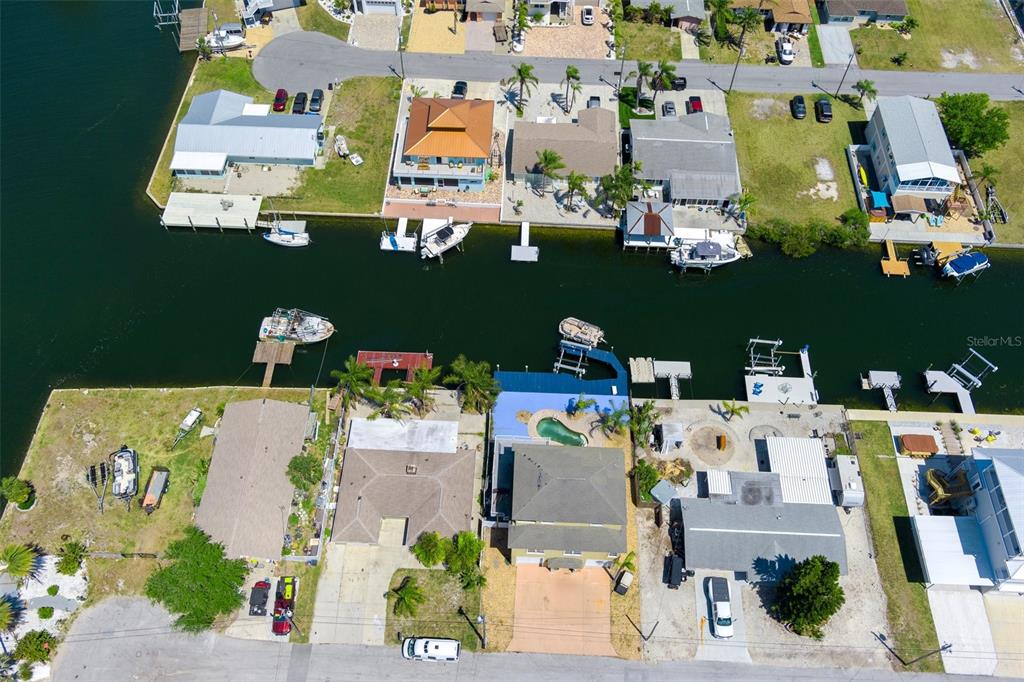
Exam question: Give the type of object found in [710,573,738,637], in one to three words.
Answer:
truck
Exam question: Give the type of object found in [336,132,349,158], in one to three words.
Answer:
boat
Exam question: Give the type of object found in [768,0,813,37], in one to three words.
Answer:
house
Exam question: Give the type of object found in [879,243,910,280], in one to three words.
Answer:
pier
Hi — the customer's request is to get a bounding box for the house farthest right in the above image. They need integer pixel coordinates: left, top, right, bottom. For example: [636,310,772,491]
[952,448,1024,594]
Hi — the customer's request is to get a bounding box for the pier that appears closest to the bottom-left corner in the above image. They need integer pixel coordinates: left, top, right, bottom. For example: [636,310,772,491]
[250,338,298,386]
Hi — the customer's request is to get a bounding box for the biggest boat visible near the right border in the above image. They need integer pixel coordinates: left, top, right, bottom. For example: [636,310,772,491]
[938,252,995,277]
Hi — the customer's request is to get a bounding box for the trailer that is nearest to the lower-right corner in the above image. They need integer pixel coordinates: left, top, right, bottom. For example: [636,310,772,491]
[827,455,864,514]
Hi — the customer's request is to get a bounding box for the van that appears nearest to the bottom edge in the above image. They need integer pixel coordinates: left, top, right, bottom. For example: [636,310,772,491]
[400,633,461,661]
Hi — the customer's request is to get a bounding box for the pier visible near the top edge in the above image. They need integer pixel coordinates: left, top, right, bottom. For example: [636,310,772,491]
[177,4,208,57]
